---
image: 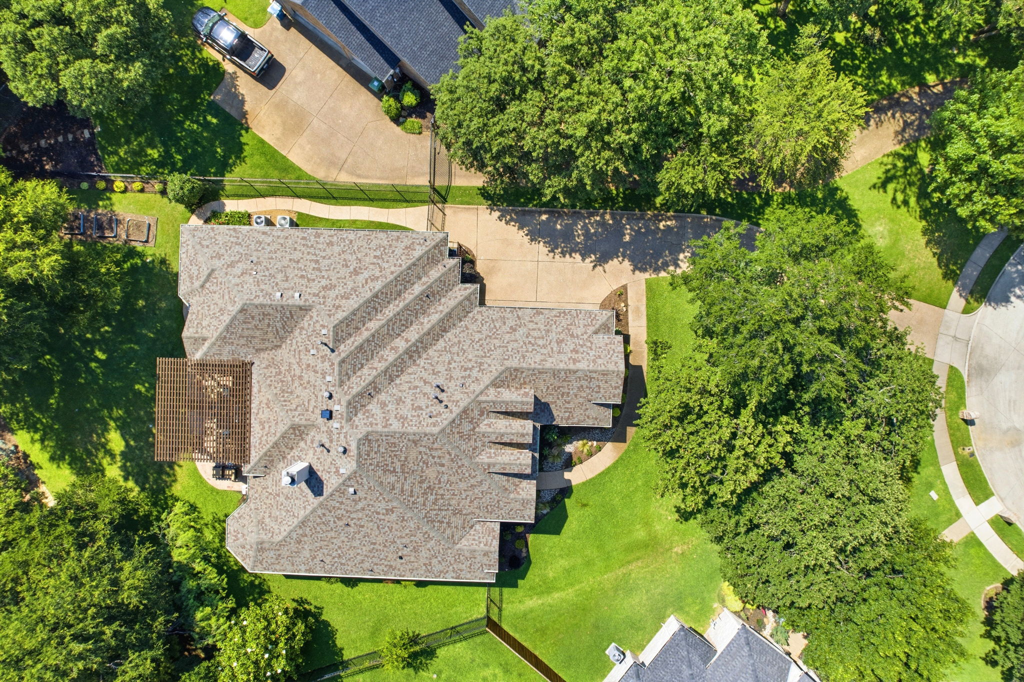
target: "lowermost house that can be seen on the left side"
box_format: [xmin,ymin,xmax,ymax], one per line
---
[177,223,625,583]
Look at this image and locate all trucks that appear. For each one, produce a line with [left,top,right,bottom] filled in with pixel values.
[191,4,279,82]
